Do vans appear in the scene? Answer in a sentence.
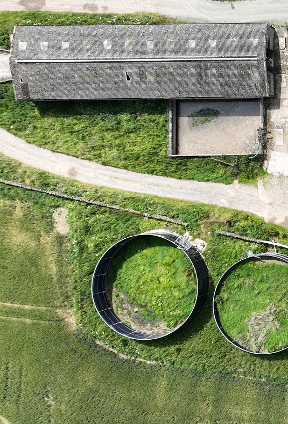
No, the picture doesn't show any van.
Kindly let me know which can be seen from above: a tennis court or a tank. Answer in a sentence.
There is a tank in the scene.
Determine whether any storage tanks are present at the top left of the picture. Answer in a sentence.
No, no storage tank is visible at the top left of the picture.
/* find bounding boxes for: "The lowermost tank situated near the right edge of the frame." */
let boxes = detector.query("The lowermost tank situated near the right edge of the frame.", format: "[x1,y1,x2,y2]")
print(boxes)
[212,245,288,355]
